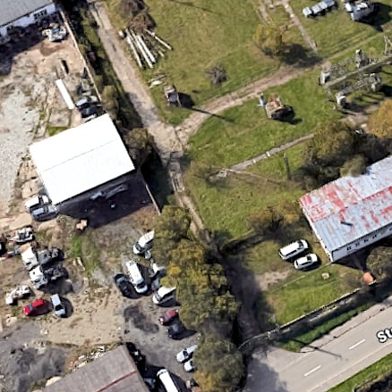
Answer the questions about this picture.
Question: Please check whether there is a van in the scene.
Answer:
Yes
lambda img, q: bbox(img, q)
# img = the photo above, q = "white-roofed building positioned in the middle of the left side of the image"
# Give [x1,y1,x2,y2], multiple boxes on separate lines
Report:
[29,115,136,219]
